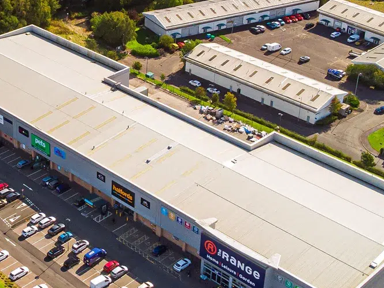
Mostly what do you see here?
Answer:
buildings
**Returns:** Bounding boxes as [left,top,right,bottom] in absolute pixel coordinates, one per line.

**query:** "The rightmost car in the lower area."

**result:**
[173,260,191,272]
